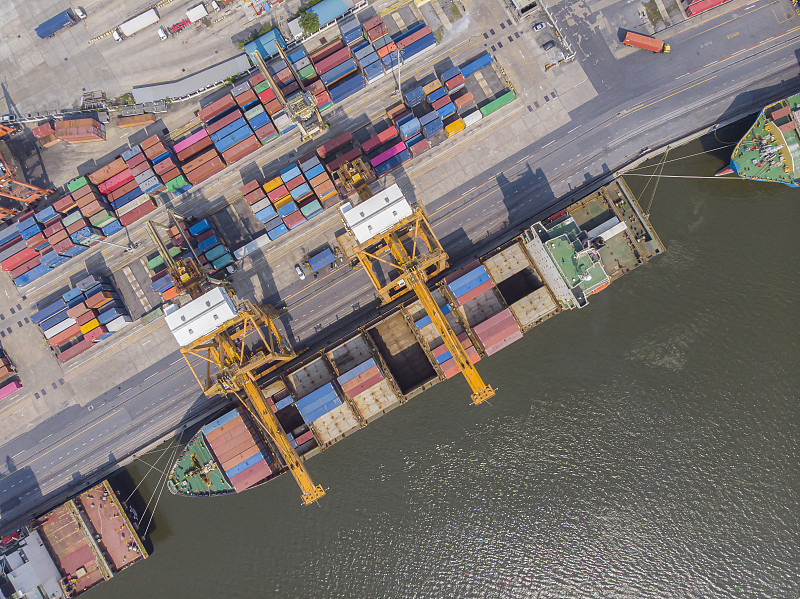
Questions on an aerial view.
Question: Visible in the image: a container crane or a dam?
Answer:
container crane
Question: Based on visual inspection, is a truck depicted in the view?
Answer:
Yes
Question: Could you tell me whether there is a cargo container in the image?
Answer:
Yes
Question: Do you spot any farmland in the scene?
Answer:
No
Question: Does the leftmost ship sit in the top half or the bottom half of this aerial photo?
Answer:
bottom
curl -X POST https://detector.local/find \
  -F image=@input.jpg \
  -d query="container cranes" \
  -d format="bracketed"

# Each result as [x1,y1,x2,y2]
[158,253,322,503]
[146,205,239,291]
[251,37,331,144]
[332,151,496,400]
[0,153,59,209]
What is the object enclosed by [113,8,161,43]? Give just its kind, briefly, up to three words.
truck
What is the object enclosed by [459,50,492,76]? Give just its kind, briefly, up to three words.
shipping container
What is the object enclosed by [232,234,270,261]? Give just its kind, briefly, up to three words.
shipping container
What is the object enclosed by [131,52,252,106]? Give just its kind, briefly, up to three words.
shed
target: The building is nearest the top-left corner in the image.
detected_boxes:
[73,86,105,109]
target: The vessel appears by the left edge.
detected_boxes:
[0,480,152,599]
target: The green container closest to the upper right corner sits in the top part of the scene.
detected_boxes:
[478,89,516,117]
